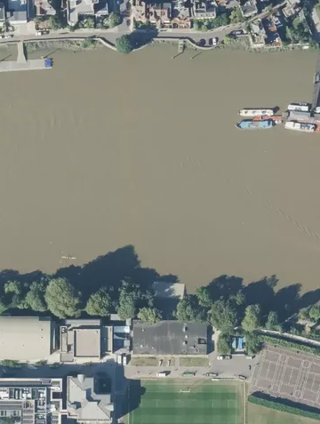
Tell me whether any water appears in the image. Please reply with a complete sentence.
Yes, some water is visible.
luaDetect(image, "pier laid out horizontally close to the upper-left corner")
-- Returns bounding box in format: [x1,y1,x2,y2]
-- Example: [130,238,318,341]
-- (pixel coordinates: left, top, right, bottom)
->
[0,59,52,73]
